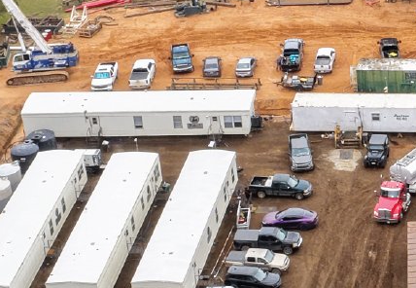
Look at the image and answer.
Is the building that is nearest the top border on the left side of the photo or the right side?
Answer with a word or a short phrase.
left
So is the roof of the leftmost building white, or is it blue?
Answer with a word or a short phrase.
white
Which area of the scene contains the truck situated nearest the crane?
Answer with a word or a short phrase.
top left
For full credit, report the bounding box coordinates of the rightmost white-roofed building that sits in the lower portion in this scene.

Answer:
[130,149,239,288]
